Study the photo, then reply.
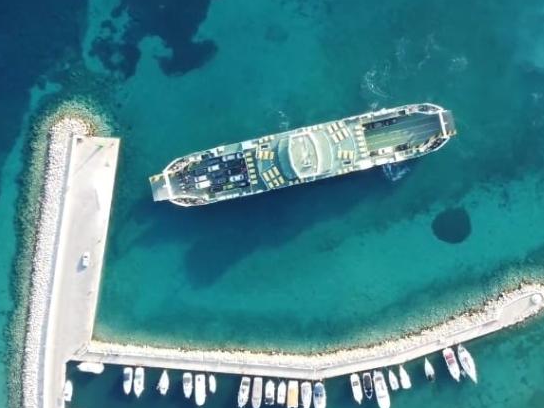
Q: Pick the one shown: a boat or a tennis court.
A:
boat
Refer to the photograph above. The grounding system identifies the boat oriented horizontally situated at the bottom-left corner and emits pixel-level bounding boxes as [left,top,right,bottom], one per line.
[78,361,105,373]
